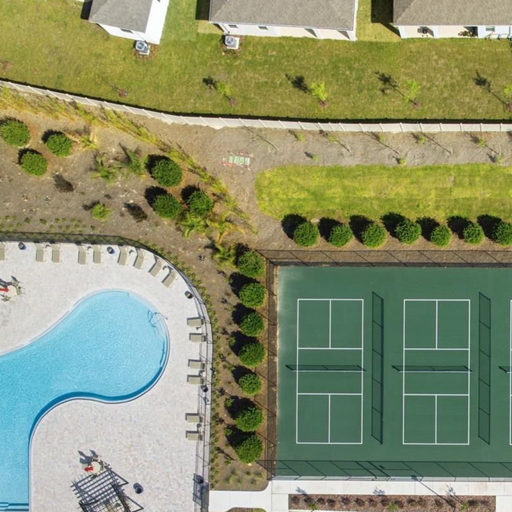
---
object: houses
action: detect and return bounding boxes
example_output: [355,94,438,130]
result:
[207,0,358,40]
[81,0,168,44]
[392,0,512,38]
